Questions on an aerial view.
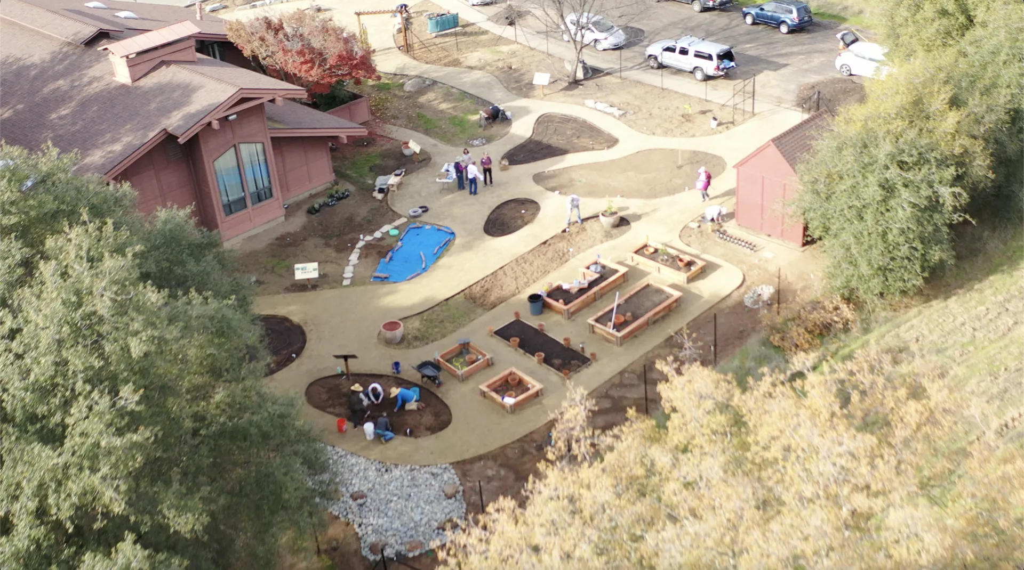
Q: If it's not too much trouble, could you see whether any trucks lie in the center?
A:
No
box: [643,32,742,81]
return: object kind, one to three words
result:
truck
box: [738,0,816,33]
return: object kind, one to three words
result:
car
